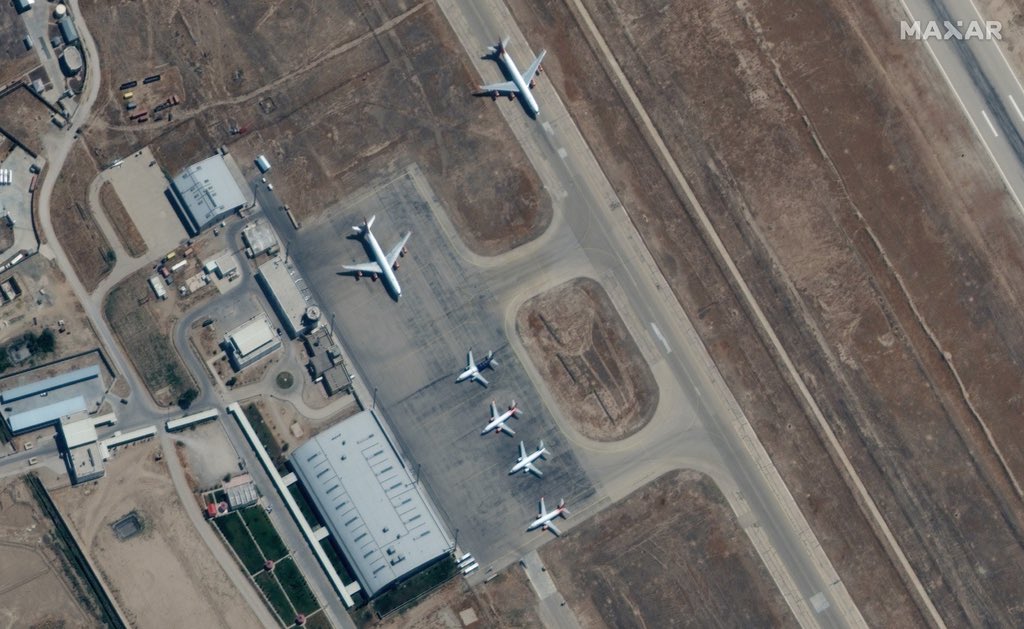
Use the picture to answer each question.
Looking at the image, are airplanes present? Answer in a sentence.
Yes, there's an airplane here.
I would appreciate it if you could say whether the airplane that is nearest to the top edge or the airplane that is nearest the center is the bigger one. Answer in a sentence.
The airplane that is nearest to the top edge covers a greater area than the airplane that is nearest the center.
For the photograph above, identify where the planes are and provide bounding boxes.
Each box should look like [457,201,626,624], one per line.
[457,349,497,384]
[530,500,570,532]
[483,400,522,432]
[479,35,546,116]
[343,216,411,298]
[510,442,550,474]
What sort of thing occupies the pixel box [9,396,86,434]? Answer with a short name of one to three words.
shed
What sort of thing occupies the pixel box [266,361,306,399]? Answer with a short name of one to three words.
roundabout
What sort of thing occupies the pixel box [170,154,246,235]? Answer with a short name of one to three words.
hangar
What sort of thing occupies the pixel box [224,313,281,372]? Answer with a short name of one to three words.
building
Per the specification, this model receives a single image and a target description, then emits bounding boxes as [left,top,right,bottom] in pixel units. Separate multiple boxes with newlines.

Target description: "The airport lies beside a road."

[286,0,1024,629]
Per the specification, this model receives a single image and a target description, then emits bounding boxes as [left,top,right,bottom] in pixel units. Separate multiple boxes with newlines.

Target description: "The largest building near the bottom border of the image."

[291,410,453,602]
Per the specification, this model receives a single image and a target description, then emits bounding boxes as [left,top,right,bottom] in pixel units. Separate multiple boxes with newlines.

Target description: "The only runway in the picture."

[899,0,1024,218]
